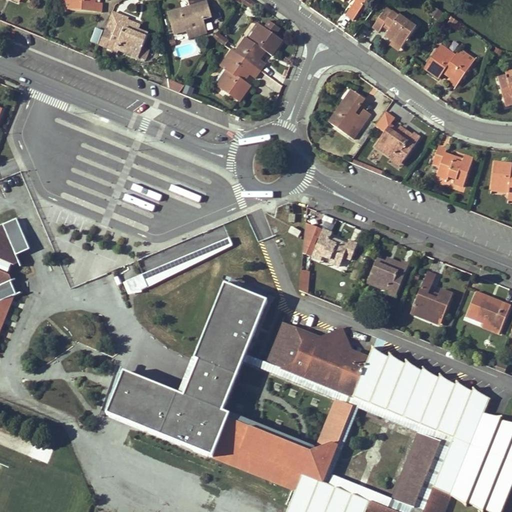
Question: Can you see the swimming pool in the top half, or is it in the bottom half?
top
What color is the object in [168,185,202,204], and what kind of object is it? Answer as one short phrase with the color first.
white vehicle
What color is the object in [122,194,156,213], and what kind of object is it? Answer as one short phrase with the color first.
white vehicle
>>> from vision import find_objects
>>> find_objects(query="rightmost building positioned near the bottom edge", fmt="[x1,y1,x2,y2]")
[450,412,512,512]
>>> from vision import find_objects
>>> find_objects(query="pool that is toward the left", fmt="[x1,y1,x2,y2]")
[173,40,201,60]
